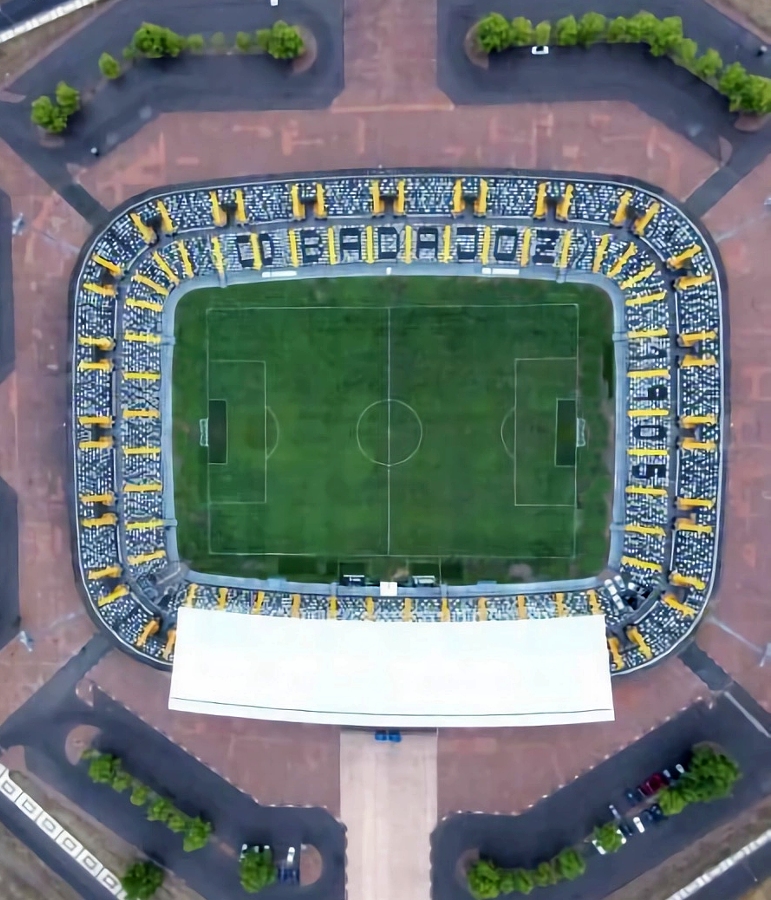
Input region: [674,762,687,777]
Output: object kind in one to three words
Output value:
vehicle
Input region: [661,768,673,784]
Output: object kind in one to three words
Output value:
vehicle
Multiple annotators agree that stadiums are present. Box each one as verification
[65,164,731,727]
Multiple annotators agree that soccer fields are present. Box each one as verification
[173,275,616,585]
